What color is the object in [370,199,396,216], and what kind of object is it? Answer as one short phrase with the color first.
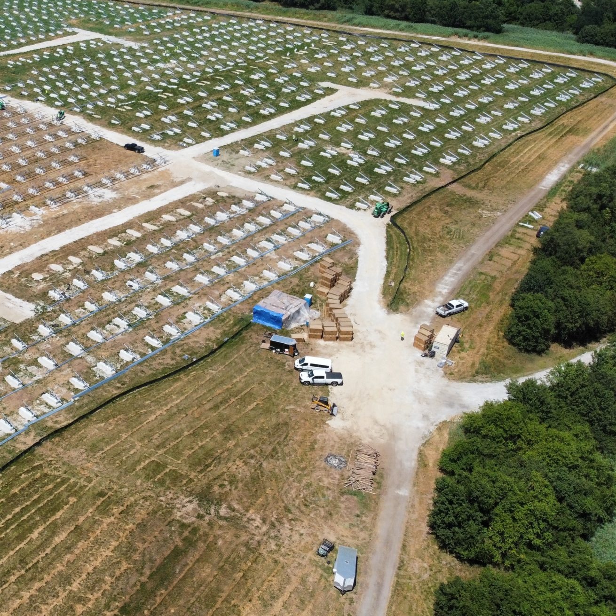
green work vehicle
